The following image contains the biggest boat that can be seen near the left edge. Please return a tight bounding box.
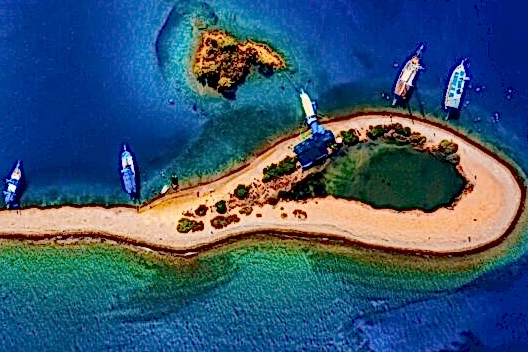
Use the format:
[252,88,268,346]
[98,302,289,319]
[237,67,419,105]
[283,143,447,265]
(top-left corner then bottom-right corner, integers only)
[6,158,21,209]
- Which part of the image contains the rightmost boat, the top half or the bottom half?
top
